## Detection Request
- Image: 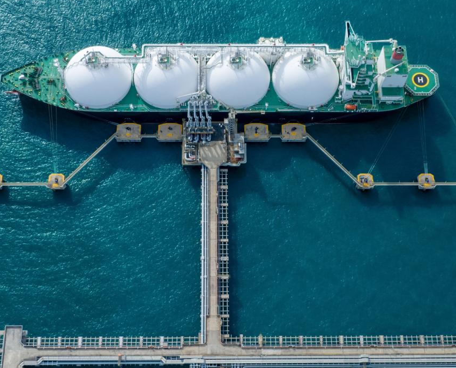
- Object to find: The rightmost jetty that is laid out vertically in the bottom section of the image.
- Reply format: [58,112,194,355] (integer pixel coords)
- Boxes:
[200,167,229,342]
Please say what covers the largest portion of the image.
water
